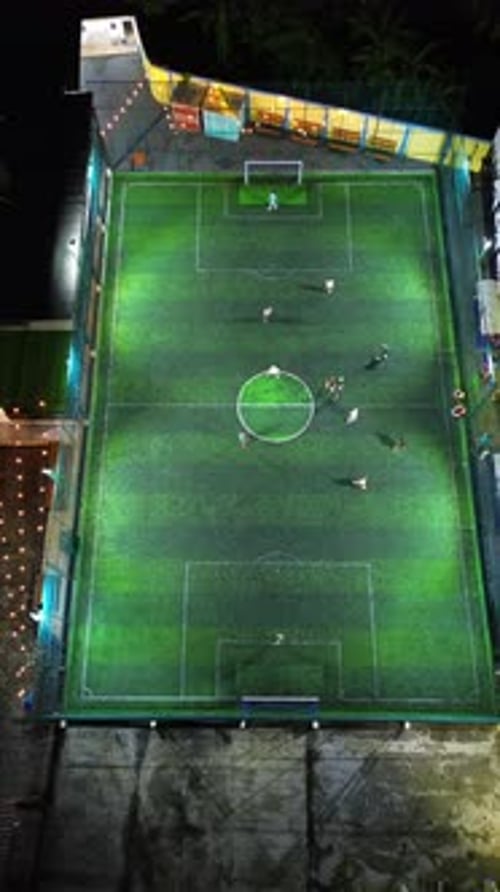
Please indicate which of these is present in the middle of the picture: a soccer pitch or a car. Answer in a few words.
soccer pitch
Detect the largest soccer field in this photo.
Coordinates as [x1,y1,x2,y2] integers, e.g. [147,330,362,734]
[58,168,497,716]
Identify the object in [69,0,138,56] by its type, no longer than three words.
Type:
house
